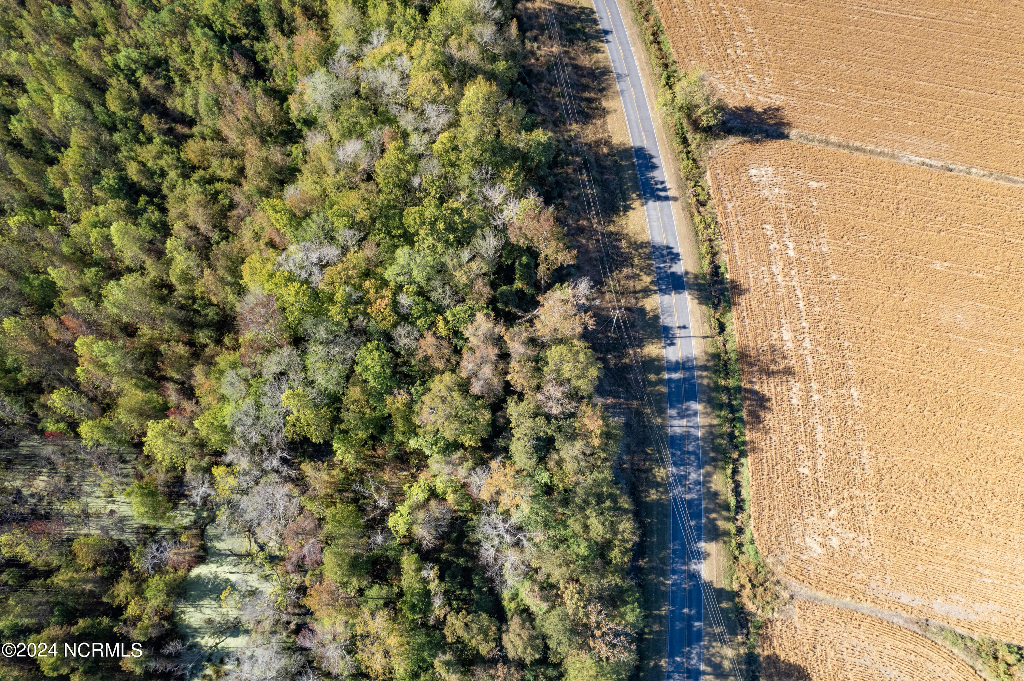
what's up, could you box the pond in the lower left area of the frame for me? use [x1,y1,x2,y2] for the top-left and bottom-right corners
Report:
[0,435,293,681]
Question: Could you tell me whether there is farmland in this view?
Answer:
Yes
